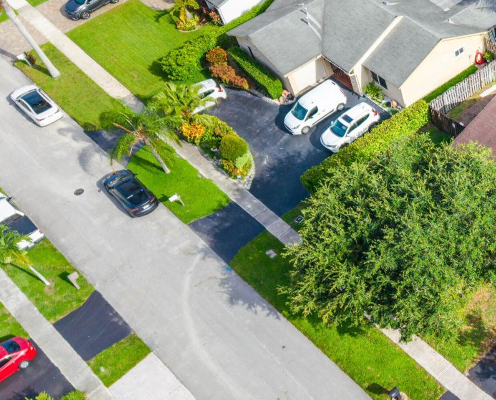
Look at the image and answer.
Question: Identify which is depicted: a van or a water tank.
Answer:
van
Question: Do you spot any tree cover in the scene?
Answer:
Yes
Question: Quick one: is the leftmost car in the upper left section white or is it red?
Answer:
white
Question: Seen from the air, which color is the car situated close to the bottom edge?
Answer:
red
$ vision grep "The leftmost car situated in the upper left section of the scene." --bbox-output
[6,80,58,120]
